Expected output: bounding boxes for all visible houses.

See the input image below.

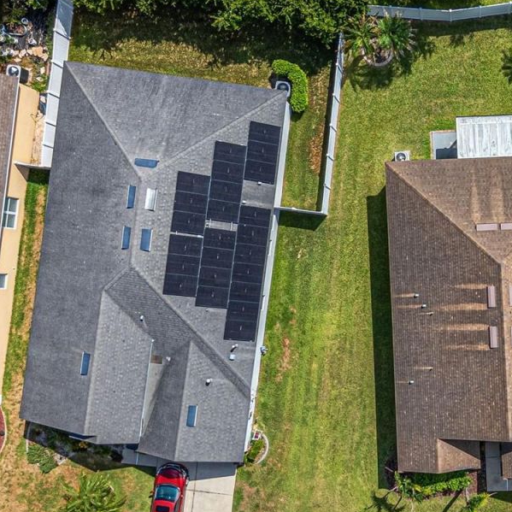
[20,61,290,463]
[384,157,512,479]
[0,76,38,401]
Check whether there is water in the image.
No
